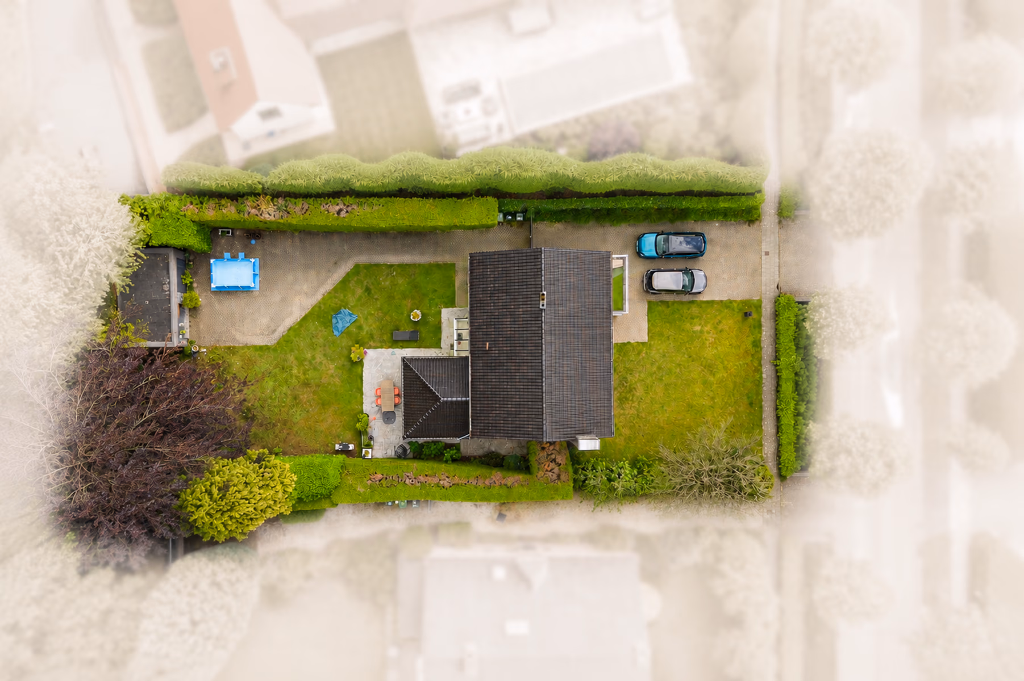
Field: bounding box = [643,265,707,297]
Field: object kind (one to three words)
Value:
car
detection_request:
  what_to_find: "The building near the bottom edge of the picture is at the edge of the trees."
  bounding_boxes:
[399,537,670,681]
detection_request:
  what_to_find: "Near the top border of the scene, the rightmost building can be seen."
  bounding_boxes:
[410,0,693,153]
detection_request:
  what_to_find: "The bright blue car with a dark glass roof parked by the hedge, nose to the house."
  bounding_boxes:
[636,227,707,261]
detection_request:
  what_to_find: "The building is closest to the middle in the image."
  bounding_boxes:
[400,247,627,449]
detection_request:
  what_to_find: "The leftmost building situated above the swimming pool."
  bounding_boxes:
[186,0,338,131]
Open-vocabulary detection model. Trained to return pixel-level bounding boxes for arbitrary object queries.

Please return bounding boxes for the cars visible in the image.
[643,265,707,297]
[636,227,707,261]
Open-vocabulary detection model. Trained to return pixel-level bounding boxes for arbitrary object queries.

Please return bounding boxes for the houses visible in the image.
[186,0,338,131]
[400,247,627,449]
[410,0,693,153]
[399,537,670,681]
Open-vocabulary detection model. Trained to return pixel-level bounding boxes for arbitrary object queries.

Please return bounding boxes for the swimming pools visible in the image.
[208,253,259,290]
